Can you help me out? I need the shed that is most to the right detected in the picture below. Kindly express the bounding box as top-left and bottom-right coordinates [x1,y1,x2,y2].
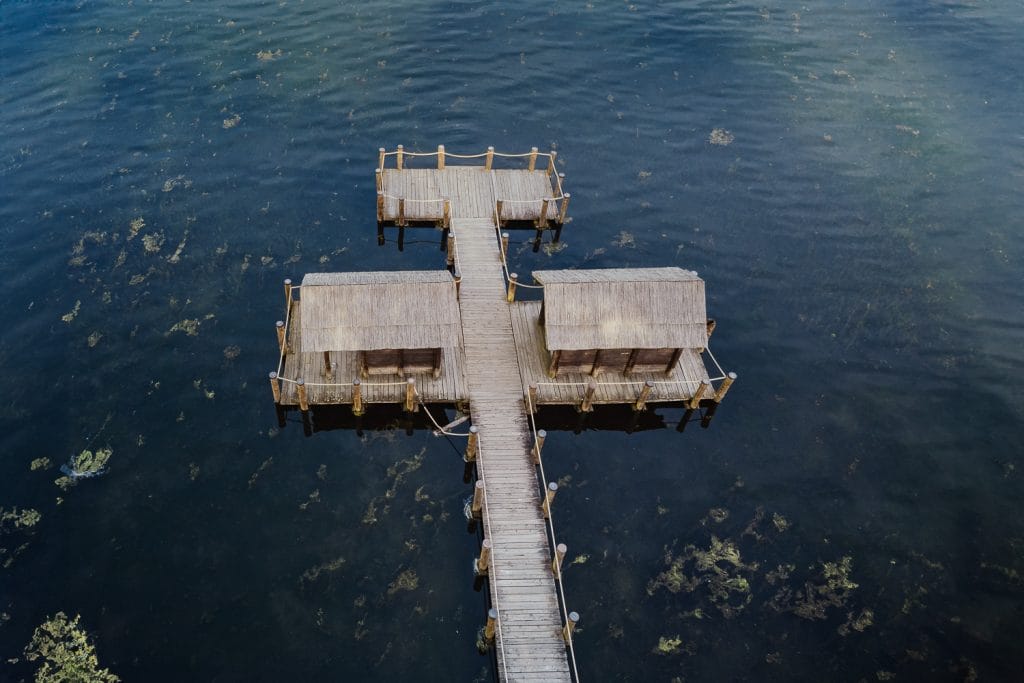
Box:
[533,270,710,377]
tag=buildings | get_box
[301,270,458,381]
[533,270,710,377]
